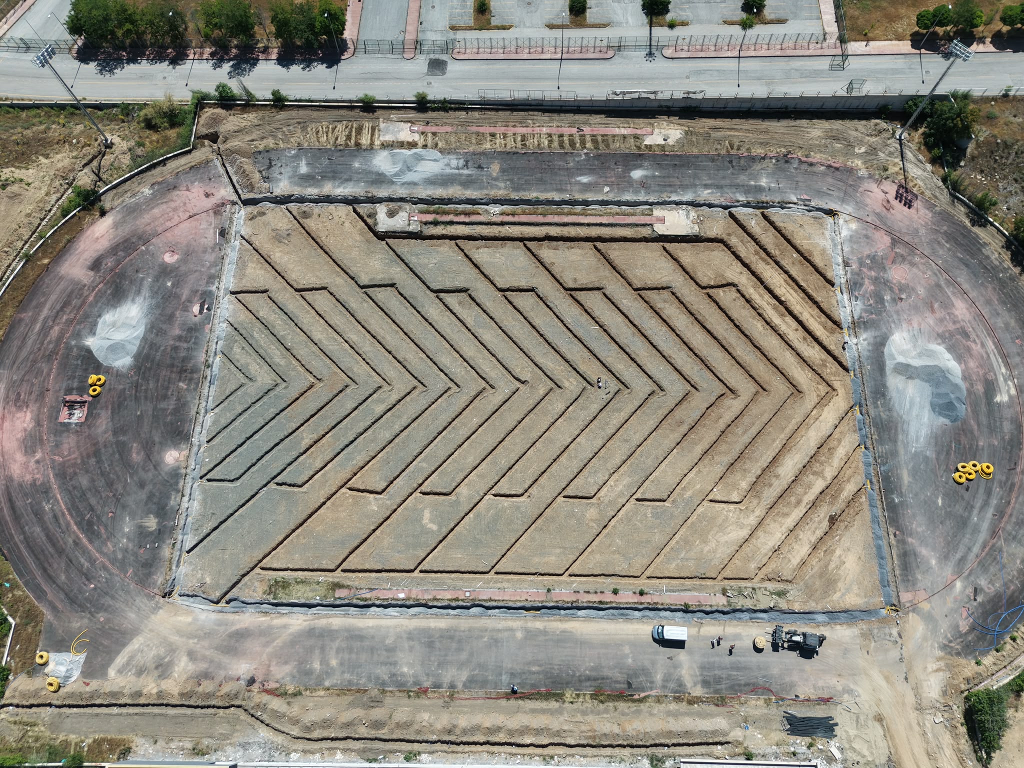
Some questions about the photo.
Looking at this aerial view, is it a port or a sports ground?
sports ground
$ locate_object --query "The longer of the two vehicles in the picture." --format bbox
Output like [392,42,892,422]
[770,629,828,651]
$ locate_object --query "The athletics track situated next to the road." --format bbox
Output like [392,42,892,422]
[0,149,1024,696]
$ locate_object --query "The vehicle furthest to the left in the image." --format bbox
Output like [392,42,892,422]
[651,624,689,643]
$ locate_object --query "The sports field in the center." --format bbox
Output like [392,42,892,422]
[182,205,882,607]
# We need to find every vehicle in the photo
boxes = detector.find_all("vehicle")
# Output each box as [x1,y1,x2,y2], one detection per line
[770,629,828,651]
[651,624,689,643]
